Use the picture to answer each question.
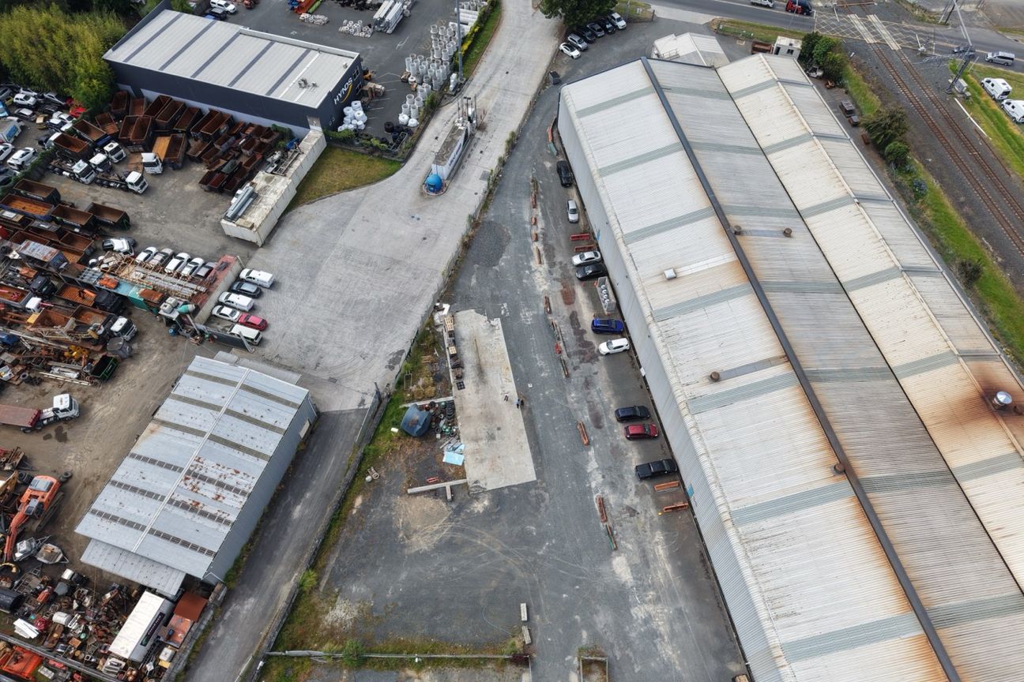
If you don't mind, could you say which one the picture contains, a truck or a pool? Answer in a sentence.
I can see a truck in this picture.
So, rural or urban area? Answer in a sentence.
The area is urban.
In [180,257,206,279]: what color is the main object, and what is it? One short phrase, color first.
gray car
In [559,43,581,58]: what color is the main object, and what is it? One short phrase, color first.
white car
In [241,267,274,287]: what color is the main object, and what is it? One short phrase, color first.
white vehicle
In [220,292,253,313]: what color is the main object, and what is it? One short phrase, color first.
white vehicle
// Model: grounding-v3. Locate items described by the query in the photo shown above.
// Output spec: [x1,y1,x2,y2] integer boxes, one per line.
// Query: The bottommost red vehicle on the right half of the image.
[625,423,658,440]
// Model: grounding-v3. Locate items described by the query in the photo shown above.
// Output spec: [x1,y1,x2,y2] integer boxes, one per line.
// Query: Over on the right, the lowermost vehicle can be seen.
[635,458,677,479]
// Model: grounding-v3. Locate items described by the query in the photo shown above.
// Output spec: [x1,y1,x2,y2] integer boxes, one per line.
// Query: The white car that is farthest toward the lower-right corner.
[599,337,630,355]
